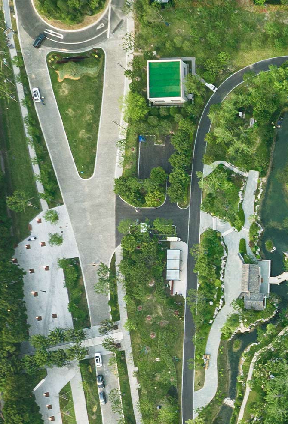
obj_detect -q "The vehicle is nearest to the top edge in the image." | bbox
[32,33,46,48]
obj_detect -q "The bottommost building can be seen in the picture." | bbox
[240,292,268,311]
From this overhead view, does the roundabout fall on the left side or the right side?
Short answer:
left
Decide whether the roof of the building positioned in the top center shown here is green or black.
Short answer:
green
